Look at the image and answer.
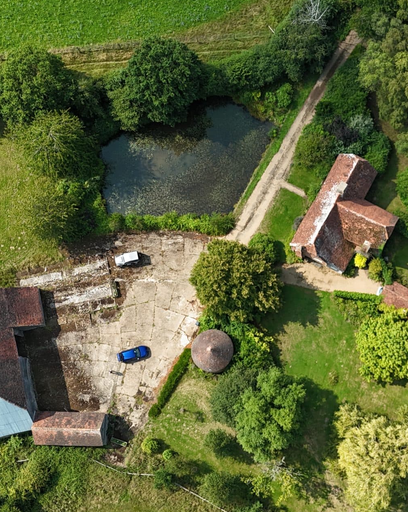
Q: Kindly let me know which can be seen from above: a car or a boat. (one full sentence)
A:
Of the two, only a car appears.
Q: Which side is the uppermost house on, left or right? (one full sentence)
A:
It is on the right.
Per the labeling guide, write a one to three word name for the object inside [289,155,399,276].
house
